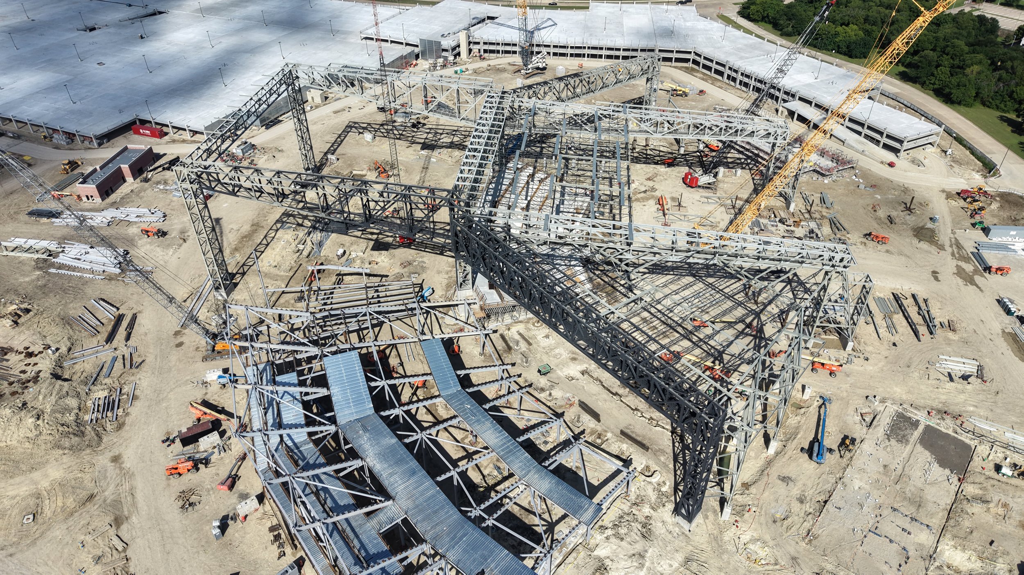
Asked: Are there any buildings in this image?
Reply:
Yes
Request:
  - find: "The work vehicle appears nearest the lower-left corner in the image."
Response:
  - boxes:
[160,453,215,476]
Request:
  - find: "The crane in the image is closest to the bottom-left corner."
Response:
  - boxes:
[191,327,254,363]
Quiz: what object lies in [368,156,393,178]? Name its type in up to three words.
work vehicle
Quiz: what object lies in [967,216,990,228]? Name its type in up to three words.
vehicle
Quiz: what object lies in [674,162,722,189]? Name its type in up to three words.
crane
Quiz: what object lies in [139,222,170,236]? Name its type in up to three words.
work vehicle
